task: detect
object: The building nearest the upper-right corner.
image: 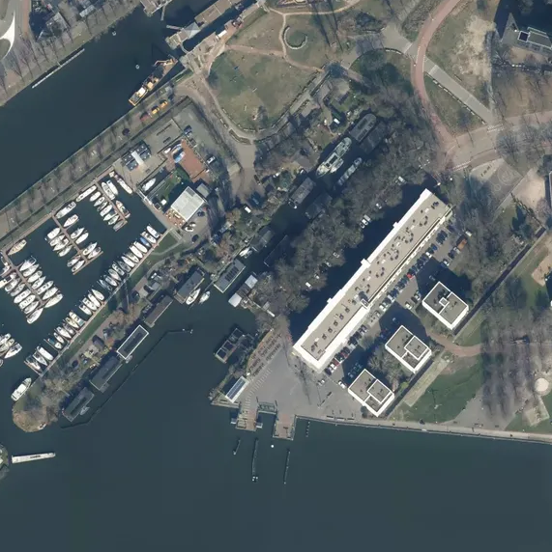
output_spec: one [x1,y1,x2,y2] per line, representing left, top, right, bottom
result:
[499,14,552,57]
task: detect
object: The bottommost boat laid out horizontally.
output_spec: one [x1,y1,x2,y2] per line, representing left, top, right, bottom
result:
[11,451,57,464]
